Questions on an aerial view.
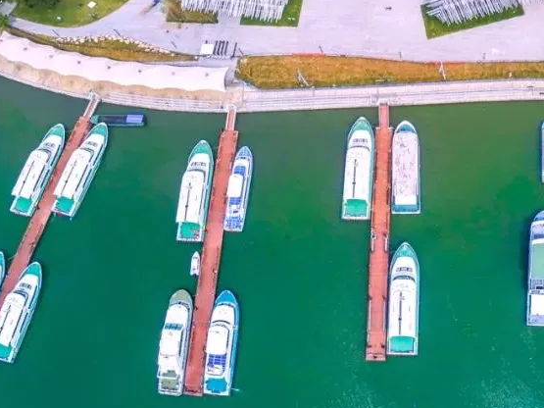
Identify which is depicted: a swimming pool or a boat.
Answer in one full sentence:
There is a boat in the scene.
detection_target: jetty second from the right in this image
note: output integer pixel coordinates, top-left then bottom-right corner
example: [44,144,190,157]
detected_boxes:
[184,101,239,396]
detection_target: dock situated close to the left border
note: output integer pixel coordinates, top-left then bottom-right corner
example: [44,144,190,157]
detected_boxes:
[0,94,101,303]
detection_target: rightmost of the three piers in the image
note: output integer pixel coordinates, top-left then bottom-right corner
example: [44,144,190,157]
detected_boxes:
[365,100,393,361]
